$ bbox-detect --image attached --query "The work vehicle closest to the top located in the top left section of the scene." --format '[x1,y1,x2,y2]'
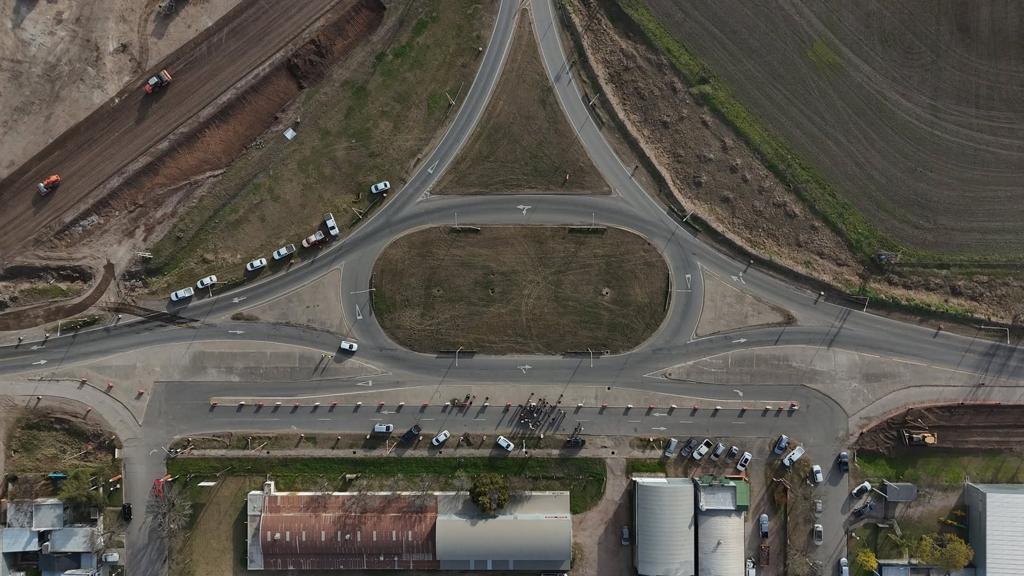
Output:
[144,70,168,89]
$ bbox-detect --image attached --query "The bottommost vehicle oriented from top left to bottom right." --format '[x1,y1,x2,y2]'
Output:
[495,436,514,451]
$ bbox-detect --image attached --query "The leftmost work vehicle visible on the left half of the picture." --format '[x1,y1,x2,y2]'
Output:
[33,175,56,194]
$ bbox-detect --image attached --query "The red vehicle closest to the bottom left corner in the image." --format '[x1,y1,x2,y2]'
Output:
[152,480,164,498]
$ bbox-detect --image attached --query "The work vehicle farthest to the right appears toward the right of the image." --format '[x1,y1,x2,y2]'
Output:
[903,430,932,447]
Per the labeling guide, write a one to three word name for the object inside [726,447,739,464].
vehicle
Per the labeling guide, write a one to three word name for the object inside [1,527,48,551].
house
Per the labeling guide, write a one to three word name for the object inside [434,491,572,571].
building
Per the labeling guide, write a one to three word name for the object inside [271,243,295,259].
vehicle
